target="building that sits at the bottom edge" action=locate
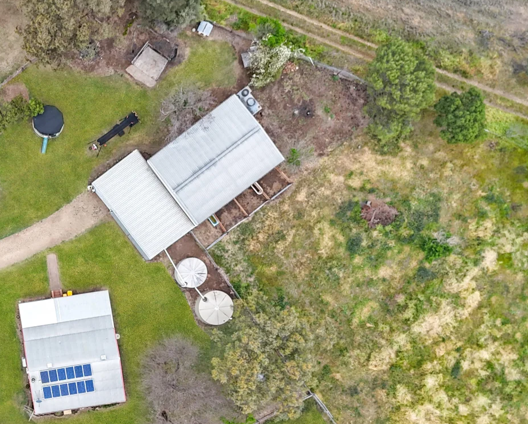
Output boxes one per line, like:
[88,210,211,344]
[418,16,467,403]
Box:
[18,290,127,414]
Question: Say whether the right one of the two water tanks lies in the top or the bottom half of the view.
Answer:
bottom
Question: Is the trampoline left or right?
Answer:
left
